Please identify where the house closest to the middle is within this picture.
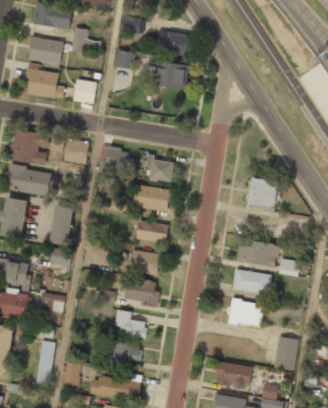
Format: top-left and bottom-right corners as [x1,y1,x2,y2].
[138,186,170,212]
